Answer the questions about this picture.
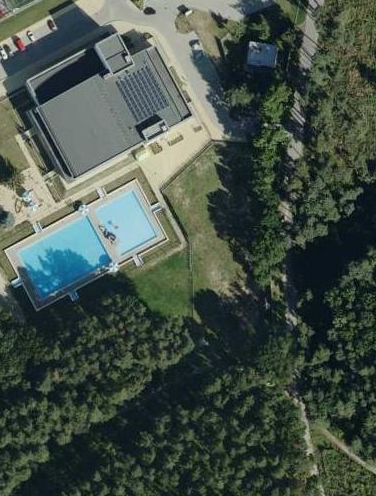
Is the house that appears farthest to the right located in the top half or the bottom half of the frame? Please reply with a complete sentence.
The house that appears farthest to the right sits in the top half of the picture.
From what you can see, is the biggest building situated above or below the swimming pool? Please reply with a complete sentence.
It's above the swimming pool that the biggest building shows up.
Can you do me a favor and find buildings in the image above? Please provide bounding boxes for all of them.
[26,32,192,182]
[248,42,279,68]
